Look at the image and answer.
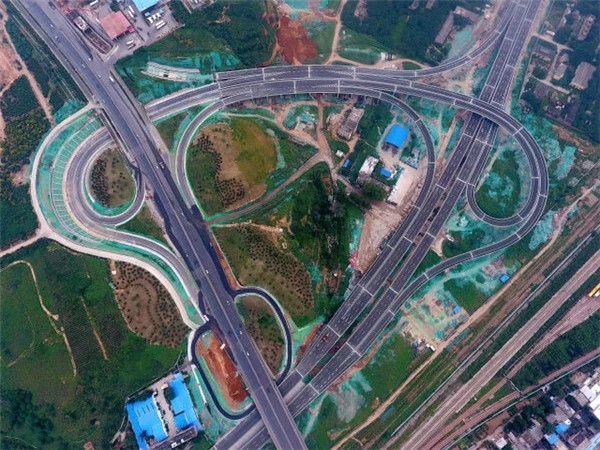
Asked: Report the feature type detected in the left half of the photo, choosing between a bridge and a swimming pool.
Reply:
bridge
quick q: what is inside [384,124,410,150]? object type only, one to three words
building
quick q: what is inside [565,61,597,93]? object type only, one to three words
building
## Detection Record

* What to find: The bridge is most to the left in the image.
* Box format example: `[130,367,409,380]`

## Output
[104,98,150,146]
